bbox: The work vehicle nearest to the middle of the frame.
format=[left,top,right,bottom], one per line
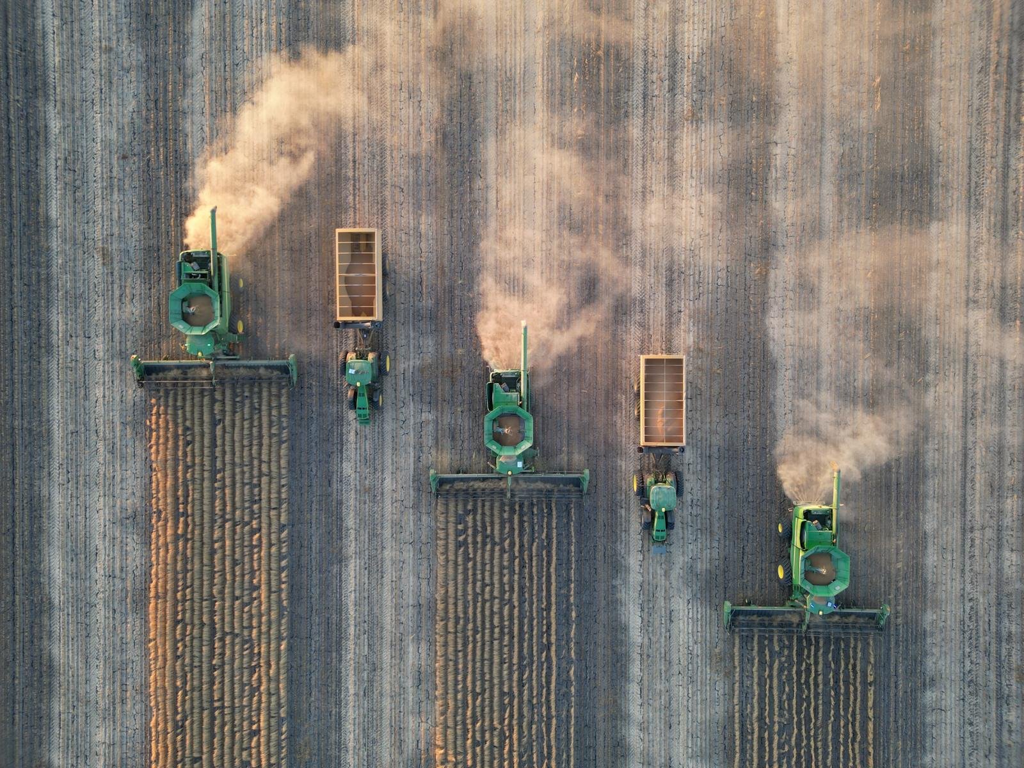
[430,321,589,507]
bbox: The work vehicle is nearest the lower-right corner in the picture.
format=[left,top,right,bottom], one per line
[726,458,889,635]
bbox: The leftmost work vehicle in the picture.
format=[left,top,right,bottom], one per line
[131,200,295,392]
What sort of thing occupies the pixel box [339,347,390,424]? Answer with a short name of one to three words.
work vehicle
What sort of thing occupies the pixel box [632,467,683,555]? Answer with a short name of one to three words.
work vehicle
